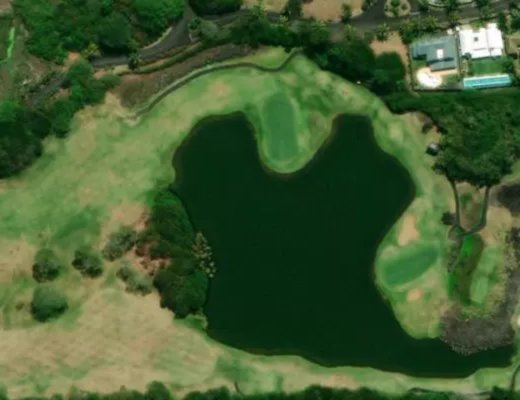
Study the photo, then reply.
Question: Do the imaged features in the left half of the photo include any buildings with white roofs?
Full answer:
No, no building with a white roof is visible in the left half of the photo.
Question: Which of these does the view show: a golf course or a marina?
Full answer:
This looks like a golf course.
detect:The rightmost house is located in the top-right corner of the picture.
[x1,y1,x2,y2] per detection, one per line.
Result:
[459,22,503,57]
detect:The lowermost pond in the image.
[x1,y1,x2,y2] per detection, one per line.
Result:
[171,112,516,378]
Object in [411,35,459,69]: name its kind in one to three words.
house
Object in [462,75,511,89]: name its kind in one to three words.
swimming pool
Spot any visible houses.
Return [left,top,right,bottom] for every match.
[411,35,459,69]
[459,22,503,57]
